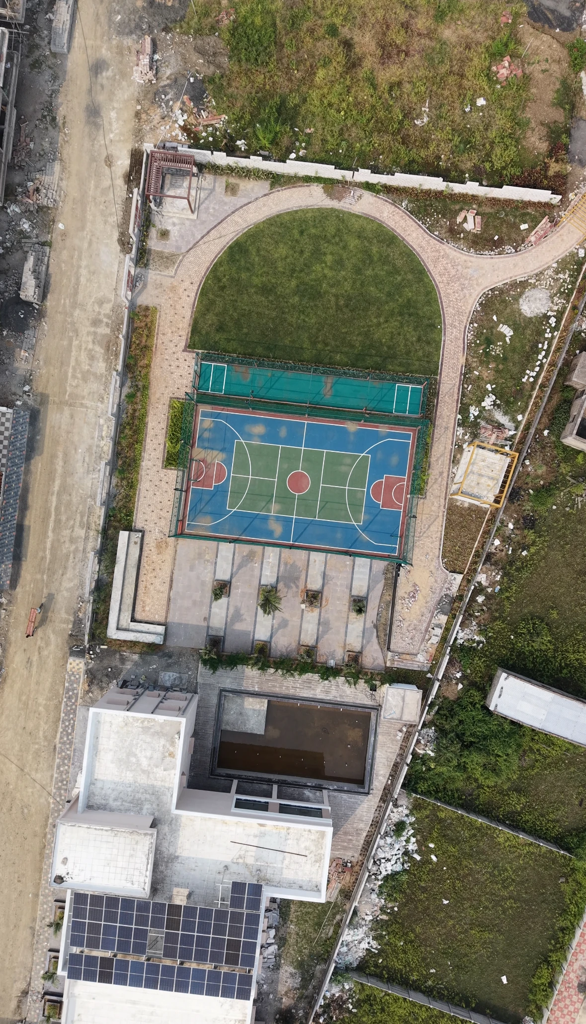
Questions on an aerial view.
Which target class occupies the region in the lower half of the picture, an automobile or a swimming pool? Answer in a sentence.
What appears in the lower half of the picture is a swimming pool.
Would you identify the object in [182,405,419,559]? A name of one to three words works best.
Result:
sports court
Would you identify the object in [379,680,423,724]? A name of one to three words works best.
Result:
building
